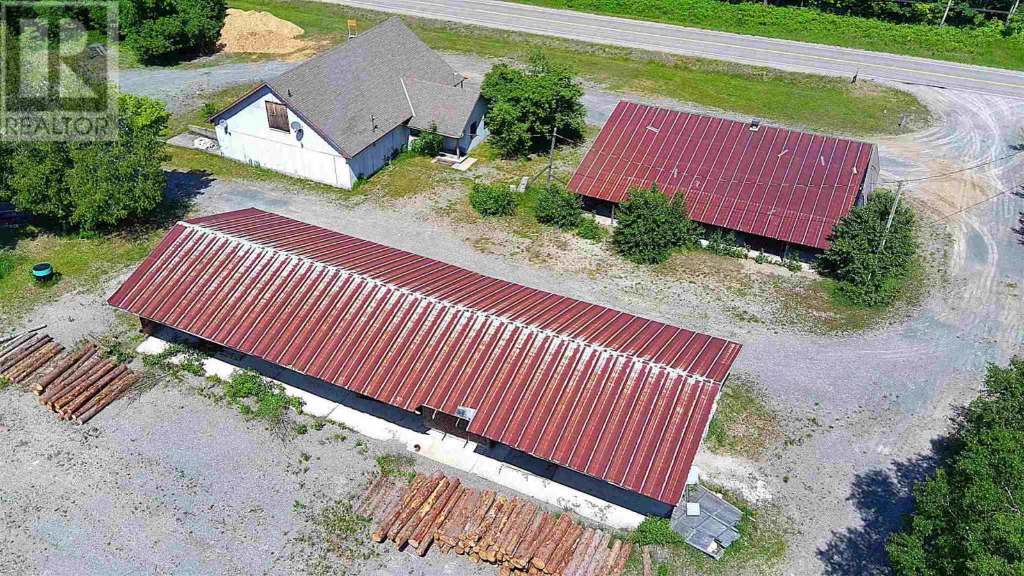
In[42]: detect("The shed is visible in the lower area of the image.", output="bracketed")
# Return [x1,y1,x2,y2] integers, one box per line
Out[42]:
[106,207,744,531]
